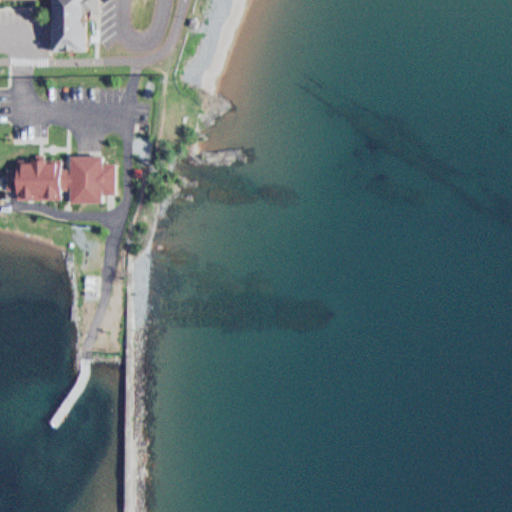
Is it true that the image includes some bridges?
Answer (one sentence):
No, I can see no bridge in this picture.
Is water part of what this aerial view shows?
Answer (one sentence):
Yes, some water is visible.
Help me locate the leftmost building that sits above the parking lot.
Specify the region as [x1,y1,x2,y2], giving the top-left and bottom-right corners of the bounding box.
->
[50,0,89,52]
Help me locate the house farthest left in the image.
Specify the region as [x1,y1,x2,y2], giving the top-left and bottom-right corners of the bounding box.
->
[11,156,62,206]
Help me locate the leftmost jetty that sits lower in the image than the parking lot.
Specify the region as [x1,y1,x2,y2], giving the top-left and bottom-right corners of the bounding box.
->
[52,357,92,428]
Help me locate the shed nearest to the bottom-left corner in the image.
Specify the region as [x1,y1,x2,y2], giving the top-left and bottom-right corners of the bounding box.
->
[84,276,101,300]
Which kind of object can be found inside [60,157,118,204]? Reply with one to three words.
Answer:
house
